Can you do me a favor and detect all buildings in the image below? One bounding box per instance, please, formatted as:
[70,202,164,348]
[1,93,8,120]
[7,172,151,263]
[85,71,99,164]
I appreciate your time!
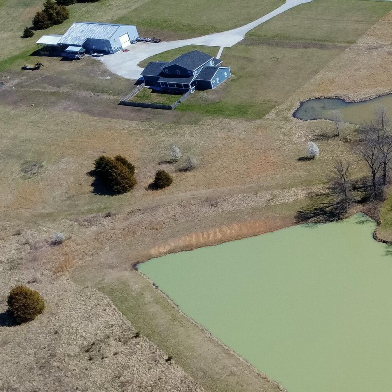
[54,21,140,55]
[139,50,229,92]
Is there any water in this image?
Yes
